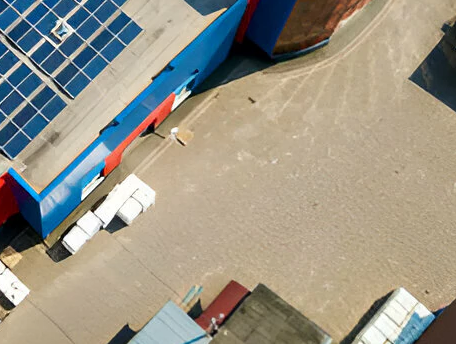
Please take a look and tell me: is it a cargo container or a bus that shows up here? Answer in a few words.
cargo container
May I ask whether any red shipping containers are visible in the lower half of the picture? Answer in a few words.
Yes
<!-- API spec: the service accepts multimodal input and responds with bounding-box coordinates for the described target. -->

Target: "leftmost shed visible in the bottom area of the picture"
[129,300,211,344]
